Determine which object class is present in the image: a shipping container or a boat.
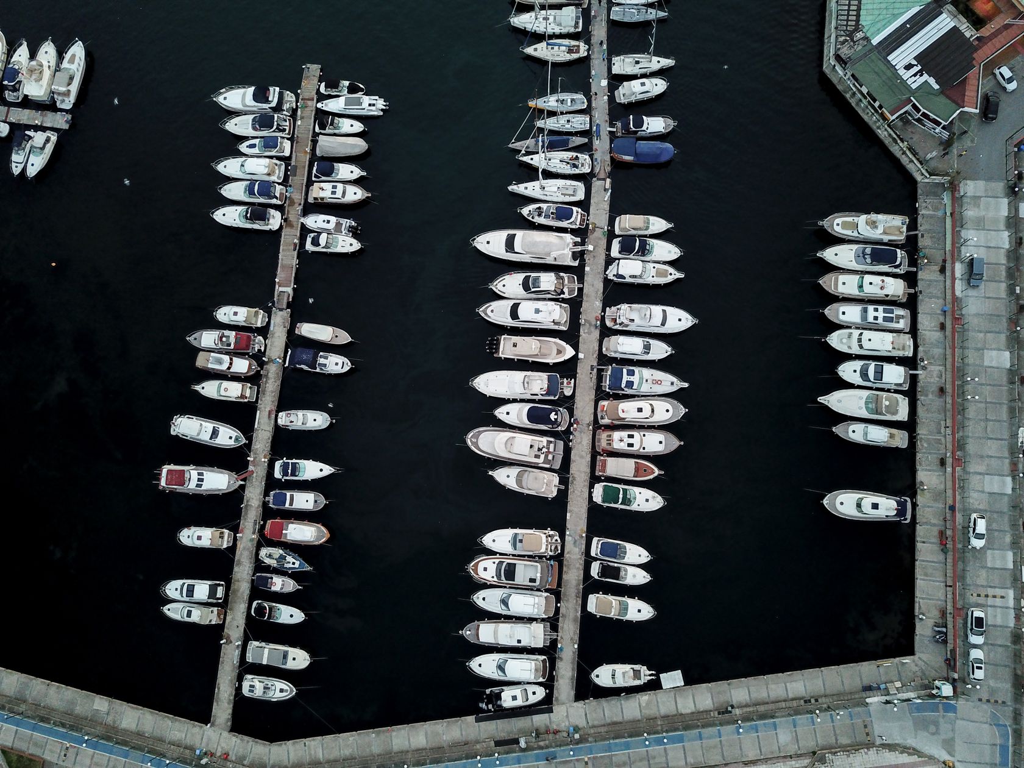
boat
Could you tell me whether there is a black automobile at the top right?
Yes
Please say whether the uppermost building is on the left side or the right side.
right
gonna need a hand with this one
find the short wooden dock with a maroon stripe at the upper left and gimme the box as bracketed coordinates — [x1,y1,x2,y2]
[0,107,72,131]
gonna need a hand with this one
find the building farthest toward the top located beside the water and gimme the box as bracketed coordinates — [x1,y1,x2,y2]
[843,0,1024,129]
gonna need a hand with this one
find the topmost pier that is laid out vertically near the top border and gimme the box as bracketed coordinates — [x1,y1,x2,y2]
[590,0,612,179]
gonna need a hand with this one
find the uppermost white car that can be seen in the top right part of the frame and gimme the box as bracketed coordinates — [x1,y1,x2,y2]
[993,61,1020,91]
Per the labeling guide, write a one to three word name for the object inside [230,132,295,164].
boat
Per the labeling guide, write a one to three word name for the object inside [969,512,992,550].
car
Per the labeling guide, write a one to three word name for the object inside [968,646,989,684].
car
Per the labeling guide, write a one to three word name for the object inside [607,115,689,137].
boat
